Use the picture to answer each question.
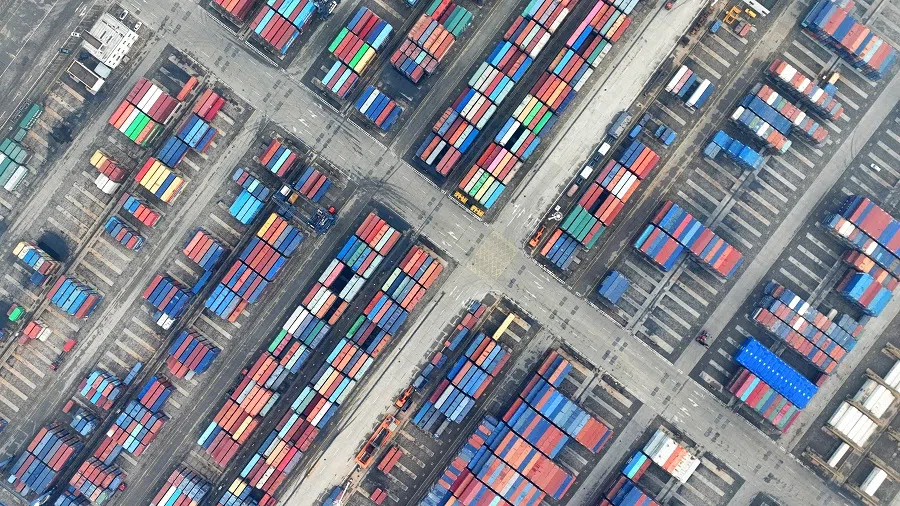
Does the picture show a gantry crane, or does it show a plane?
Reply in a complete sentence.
Of the two, only a gantry crane appears.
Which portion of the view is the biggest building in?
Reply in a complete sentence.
Look in the top left portion of the view to spot the biggest building.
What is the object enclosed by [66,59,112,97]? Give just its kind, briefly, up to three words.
building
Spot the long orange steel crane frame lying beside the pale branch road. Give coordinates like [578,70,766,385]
[352,411,398,467]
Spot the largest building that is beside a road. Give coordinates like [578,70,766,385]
[81,12,142,71]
